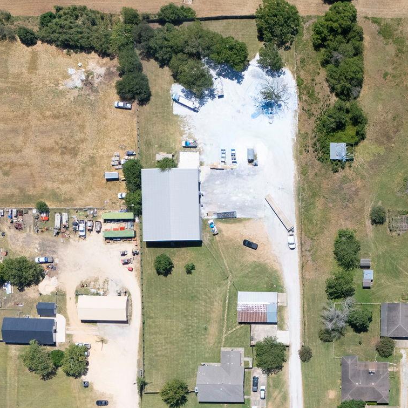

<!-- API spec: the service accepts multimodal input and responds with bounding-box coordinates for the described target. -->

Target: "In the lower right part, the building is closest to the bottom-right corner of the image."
[341,356,389,404]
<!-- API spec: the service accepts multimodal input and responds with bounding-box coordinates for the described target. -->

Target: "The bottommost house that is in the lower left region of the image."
[0,317,58,343]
